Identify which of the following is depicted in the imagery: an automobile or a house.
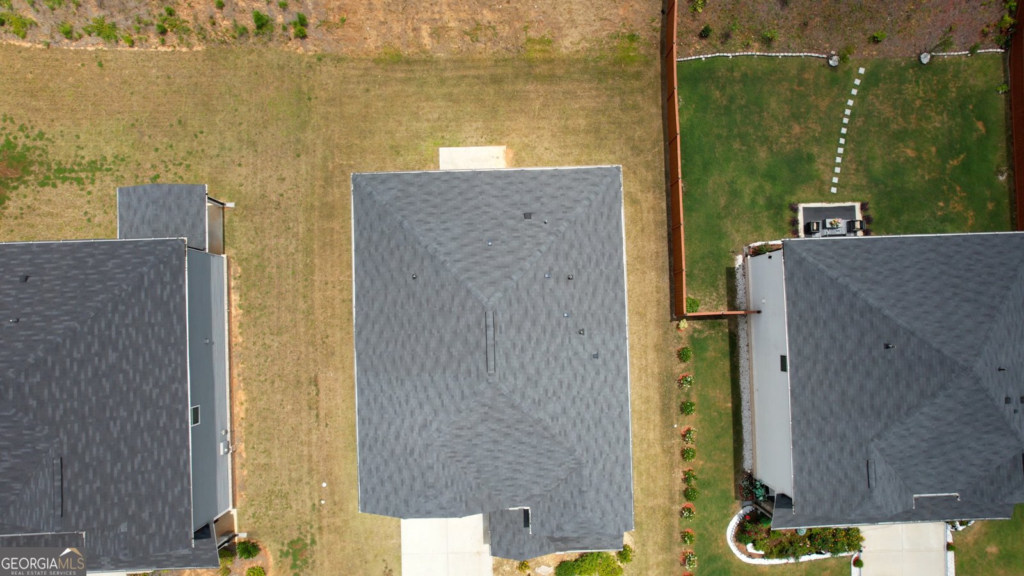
house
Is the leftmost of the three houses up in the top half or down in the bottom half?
bottom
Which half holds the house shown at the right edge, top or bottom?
bottom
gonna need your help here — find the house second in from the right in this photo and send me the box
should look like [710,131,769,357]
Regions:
[350,164,634,560]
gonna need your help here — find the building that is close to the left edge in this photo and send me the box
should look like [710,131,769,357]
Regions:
[0,184,241,575]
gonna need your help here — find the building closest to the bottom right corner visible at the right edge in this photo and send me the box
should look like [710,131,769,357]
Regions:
[746,231,1024,530]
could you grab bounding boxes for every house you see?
[0,184,241,575]
[746,231,1024,530]
[350,164,634,560]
